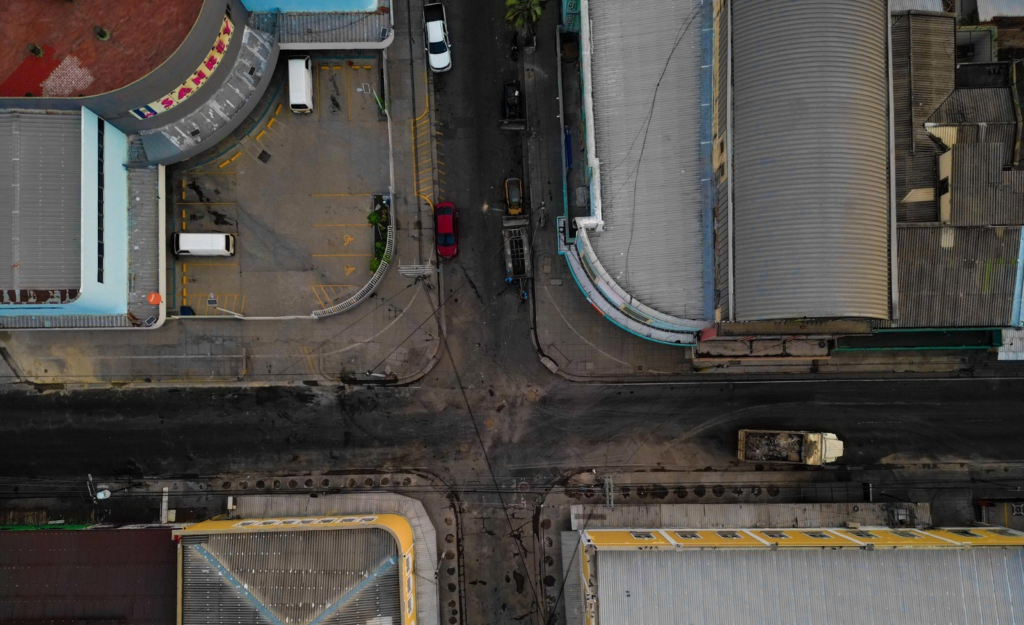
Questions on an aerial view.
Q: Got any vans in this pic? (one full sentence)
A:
Yes, the picture does show a van.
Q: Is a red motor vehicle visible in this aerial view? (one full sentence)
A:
Yes, the image includes a red motor vehicle.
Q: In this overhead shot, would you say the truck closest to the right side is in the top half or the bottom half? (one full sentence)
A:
You can find the truck closest to the right side in the bottom half.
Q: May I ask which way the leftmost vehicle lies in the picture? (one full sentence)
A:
What the image shows is the leftmost vehicle lying horizontally.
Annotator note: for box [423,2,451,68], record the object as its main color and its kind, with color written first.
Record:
white truck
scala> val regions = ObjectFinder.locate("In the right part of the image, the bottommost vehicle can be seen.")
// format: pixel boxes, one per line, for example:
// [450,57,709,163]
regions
[732,429,845,468]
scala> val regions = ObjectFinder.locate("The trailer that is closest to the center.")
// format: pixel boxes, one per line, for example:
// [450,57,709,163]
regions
[504,229,533,294]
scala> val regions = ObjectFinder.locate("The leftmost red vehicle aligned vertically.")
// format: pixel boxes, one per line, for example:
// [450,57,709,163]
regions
[432,201,459,257]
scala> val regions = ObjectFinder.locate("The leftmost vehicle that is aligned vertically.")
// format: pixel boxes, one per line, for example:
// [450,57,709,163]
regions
[287,56,315,115]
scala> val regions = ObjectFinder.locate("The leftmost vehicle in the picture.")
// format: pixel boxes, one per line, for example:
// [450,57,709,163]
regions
[172,230,235,257]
